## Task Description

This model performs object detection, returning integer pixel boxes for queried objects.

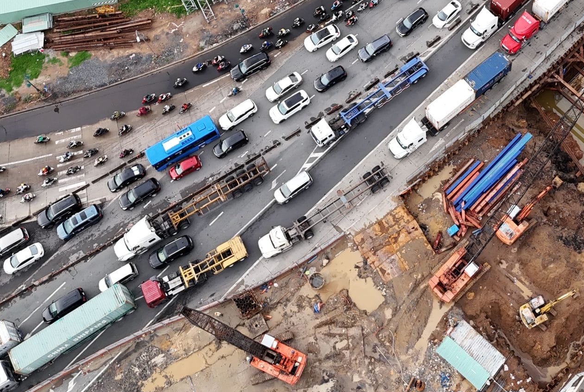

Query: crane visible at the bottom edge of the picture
[179,305,319,392]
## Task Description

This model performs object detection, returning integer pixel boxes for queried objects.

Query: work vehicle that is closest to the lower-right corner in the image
[511,288,581,333]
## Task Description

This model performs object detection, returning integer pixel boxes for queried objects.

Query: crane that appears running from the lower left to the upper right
[426,94,584,312]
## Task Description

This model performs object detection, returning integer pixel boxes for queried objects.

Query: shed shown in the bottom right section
[430,320,506,390]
